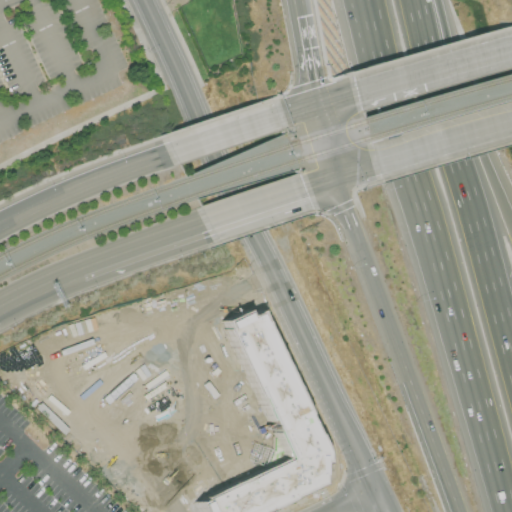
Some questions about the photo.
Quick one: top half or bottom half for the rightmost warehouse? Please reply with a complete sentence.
The bottom half of the photo is where the rightmost warehouse is.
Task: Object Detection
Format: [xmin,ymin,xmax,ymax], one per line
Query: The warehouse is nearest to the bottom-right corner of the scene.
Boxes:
[196,310,336,512]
